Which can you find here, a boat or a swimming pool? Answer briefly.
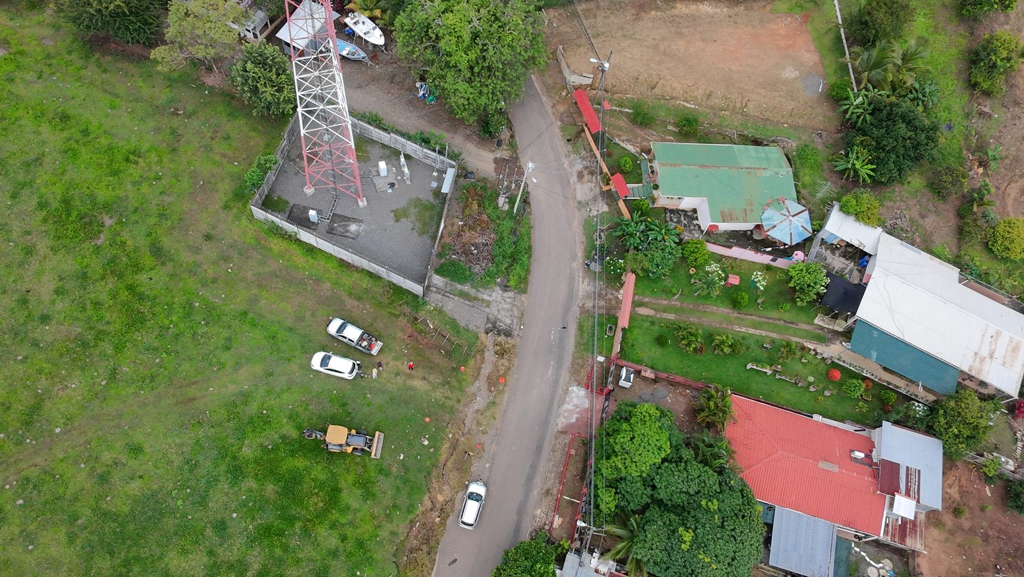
boat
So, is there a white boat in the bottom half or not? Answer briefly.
No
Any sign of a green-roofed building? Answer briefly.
Yes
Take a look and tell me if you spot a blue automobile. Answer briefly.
No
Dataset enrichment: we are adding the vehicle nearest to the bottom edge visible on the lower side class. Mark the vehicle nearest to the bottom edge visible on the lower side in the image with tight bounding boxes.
[458,482,487,530]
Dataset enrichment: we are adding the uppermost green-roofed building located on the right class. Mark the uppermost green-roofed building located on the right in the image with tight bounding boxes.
[651,142,797,232]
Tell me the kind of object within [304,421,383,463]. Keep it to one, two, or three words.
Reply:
work vehicle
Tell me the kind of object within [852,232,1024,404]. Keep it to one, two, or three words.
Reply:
house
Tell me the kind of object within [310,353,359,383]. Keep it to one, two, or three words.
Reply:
car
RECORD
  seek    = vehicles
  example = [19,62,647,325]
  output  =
[304,421,383,463]
[310,353,359,383]
[458,482,487,530]
[326,319,385,358]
